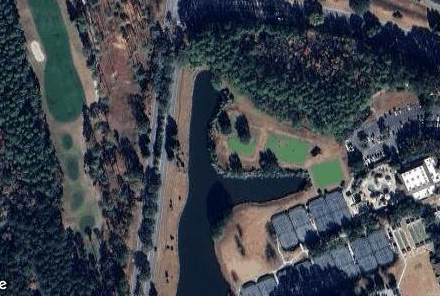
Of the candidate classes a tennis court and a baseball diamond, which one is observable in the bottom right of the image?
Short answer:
tennis court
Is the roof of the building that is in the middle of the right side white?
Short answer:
Yes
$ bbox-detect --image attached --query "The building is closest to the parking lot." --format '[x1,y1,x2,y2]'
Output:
[401,157,440,198]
